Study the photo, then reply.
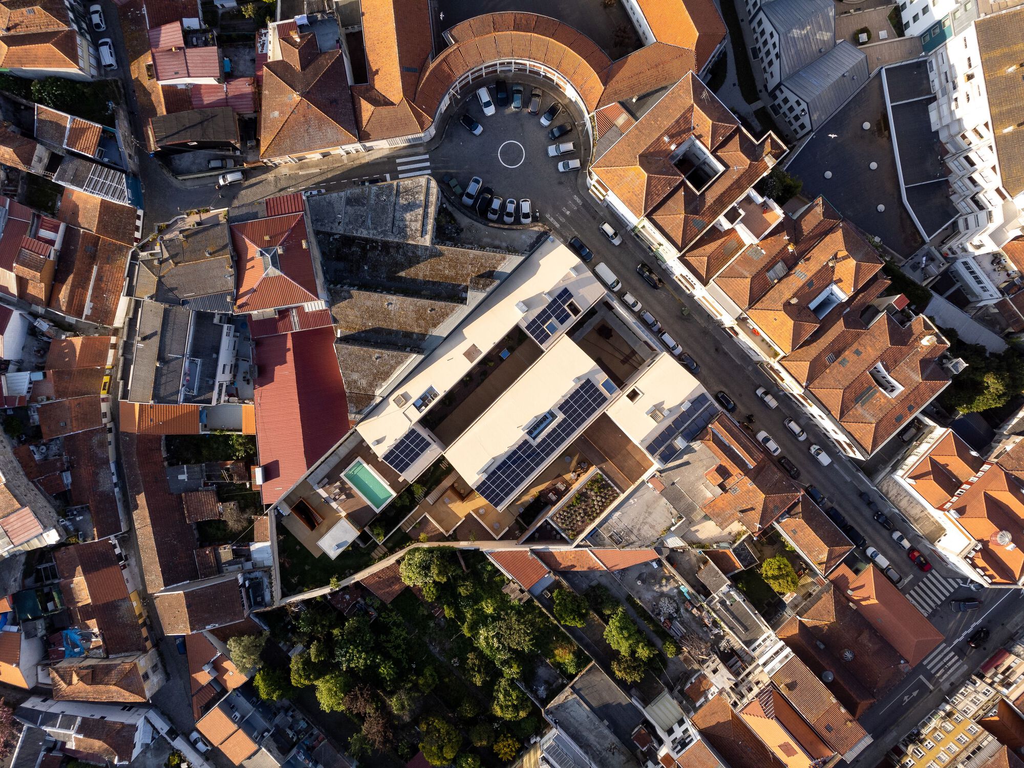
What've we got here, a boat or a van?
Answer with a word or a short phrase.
van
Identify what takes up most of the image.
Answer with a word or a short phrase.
buildings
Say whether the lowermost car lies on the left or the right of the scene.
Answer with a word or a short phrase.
left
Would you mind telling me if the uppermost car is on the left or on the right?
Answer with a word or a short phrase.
left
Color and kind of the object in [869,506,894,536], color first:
black car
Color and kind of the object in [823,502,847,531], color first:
black car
